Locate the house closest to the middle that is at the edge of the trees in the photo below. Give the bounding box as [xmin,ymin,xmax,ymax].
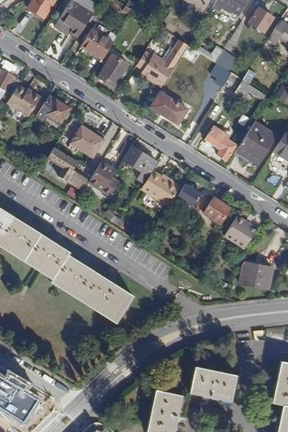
[140,172,178,204]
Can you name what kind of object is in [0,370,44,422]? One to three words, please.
building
